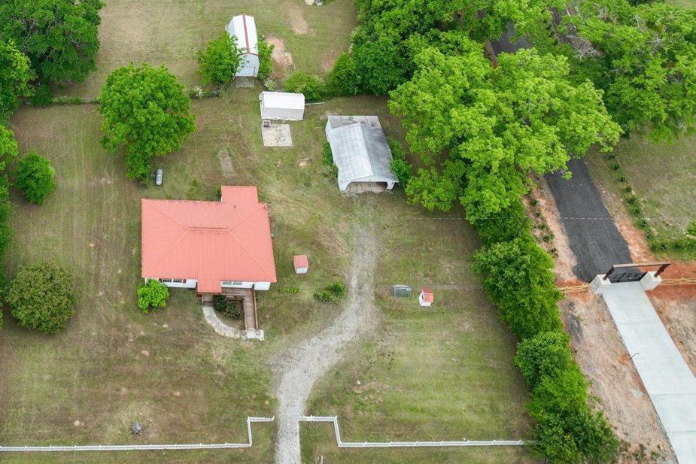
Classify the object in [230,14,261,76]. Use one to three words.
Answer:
shed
